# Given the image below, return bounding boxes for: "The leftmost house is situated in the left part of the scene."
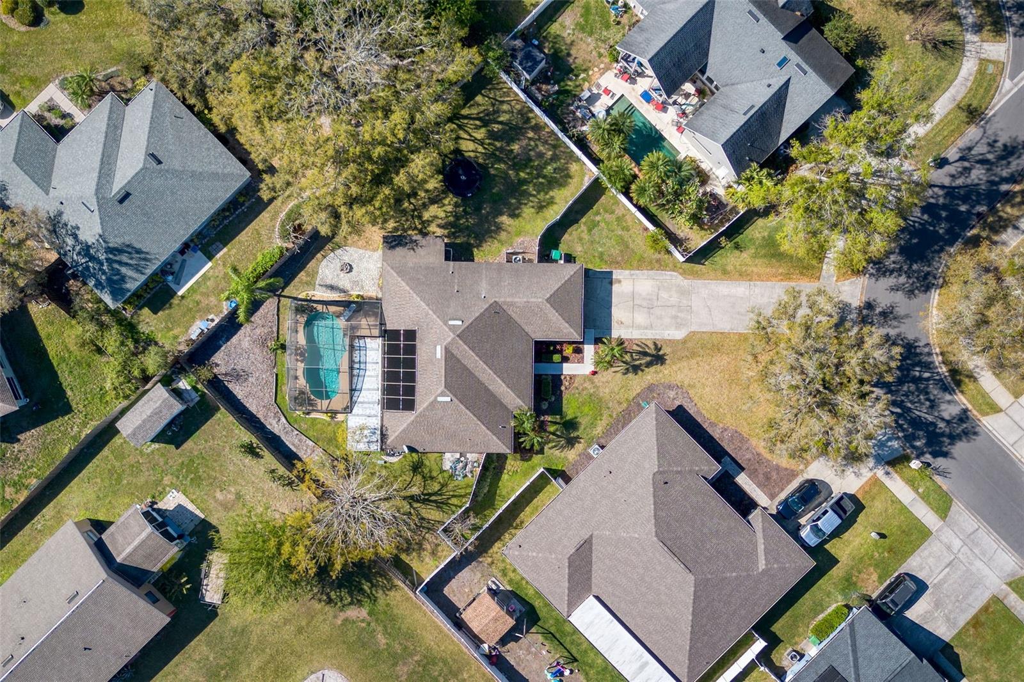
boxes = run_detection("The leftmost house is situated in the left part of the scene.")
[0,357,38,418]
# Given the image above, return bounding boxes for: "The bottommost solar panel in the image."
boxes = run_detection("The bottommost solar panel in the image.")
[810,657,852,682]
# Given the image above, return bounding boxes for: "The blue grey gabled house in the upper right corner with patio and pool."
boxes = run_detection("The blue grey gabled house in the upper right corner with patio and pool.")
[615,0,855,178]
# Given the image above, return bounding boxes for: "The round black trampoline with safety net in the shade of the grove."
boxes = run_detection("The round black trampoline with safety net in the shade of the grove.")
[443,154,483,196]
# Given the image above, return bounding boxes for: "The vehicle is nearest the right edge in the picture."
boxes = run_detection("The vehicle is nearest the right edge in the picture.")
[870,567,919,619]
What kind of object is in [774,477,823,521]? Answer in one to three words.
car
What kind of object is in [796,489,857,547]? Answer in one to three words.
truck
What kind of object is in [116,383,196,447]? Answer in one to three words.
shed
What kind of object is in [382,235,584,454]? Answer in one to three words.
house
